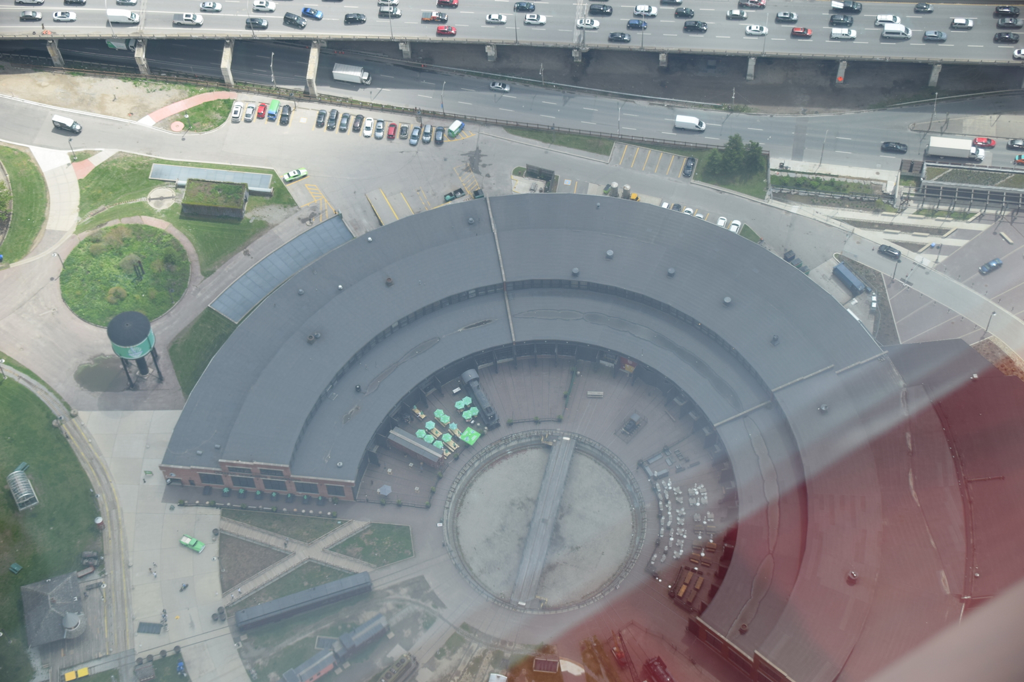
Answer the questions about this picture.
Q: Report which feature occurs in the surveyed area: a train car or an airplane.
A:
train car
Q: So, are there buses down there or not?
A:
Yes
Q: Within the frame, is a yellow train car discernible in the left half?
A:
Yes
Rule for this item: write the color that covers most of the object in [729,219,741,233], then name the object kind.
white vehicle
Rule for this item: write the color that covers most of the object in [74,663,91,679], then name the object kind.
yellow rail car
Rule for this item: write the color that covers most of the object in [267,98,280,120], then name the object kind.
green vehicle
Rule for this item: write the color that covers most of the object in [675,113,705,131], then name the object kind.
white vehicle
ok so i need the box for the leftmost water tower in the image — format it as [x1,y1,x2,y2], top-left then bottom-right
[108,315,164,390]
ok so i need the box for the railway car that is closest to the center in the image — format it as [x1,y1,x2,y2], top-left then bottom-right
[460,367,502,434]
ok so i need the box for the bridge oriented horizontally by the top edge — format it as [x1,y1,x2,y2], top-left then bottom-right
[0,0,1024,98]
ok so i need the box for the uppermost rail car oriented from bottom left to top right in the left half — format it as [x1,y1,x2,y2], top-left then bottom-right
[341,607,399,656]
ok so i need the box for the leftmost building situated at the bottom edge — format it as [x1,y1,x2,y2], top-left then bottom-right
[21,571,87,649]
